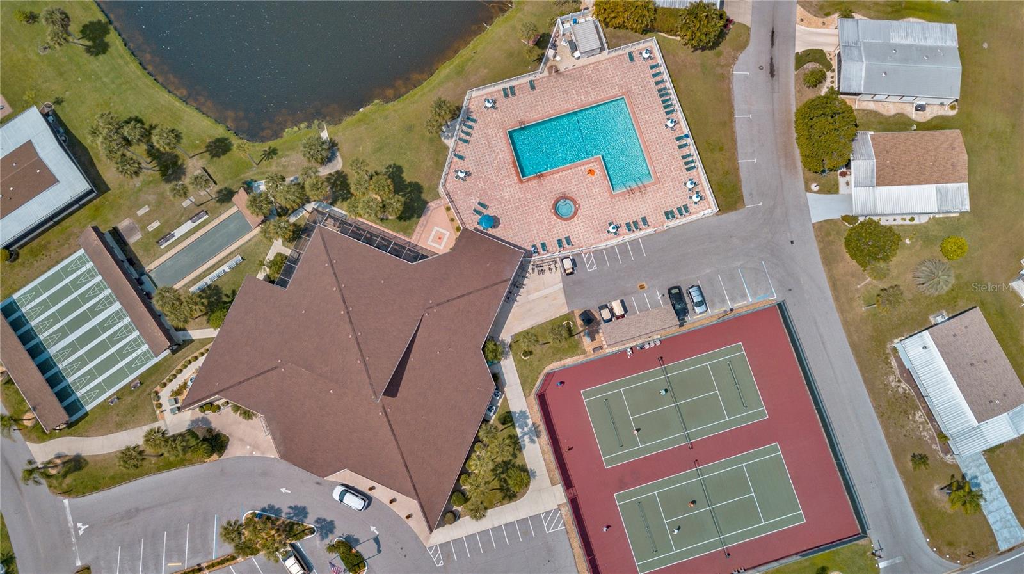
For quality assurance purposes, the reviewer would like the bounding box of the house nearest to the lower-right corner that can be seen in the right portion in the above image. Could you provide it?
[895,308,1024,457]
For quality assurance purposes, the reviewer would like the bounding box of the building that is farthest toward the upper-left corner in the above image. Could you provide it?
[0,107,97,249]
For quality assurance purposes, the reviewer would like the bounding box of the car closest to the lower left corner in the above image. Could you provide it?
[282,542,311,574]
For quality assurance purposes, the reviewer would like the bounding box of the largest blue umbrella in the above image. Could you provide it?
[477,210,495,227]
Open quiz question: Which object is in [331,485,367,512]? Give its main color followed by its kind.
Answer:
white car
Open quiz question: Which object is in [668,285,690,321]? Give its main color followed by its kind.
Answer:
black car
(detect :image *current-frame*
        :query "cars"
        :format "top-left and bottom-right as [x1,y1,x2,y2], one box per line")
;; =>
[282,542,311,574]
[687,283,709,316]
[668,285,690,321]
[331,485,367,512]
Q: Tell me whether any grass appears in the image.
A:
Yes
